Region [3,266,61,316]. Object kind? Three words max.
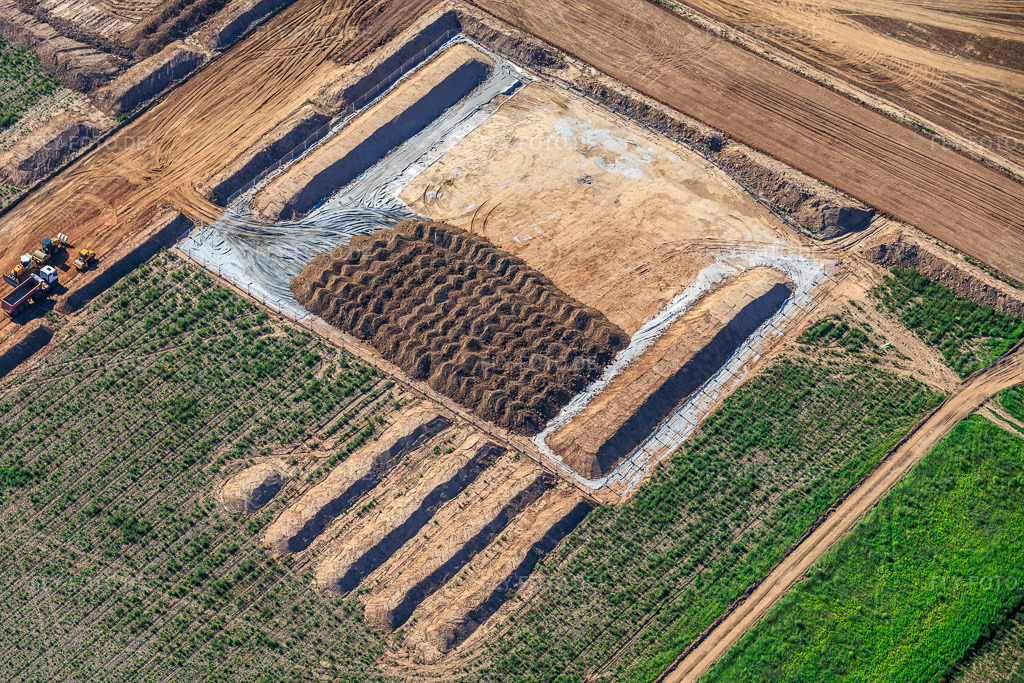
truck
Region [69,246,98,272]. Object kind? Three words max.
work vehicle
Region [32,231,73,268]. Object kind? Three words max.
work vehicle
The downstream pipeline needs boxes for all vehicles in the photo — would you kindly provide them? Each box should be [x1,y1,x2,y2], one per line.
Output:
[3,266,61,316]
[69,246,98,272]
[32,231,73,268]
[2,252,42,288]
